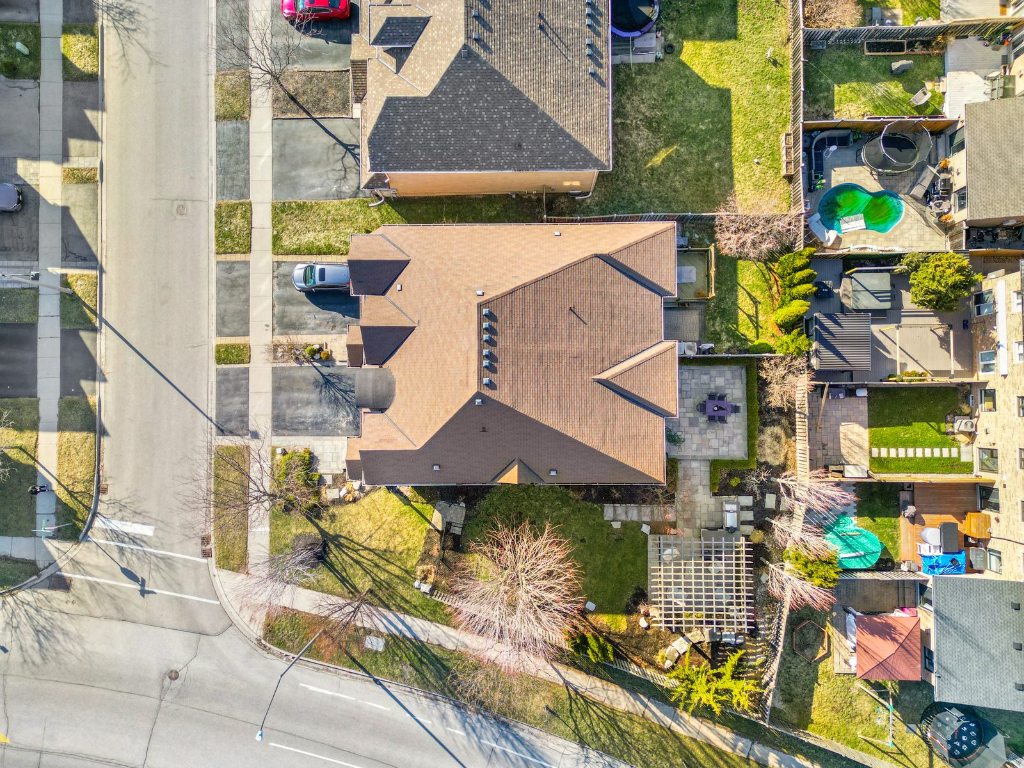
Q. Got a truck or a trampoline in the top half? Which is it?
trampoline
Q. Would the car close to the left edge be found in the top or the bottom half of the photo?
top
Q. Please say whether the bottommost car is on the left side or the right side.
left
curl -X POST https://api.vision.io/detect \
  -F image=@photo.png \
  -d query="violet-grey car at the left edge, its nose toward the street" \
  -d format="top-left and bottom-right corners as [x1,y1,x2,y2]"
[0,184,20,212]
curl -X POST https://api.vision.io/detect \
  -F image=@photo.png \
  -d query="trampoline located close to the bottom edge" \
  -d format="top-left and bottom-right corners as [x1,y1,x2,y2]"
[921,703,1004,768]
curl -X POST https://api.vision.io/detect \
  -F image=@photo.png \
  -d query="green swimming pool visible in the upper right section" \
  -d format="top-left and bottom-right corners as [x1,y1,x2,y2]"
[812,176,909,240]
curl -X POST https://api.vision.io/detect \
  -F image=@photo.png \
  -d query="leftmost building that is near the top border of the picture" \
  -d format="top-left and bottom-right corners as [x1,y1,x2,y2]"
[349,0,611,205]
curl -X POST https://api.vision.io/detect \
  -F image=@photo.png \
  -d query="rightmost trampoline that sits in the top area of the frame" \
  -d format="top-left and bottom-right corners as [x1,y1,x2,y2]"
[856,124,932,176]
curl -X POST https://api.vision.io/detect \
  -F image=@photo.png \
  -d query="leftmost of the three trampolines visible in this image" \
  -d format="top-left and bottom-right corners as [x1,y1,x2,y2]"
[611,0,659,40]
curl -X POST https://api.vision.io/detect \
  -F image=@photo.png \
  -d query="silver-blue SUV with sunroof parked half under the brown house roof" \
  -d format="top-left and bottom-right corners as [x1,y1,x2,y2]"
[291,263,351,294]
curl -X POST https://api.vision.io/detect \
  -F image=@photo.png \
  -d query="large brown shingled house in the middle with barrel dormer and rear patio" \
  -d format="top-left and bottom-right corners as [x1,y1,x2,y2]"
[345,221,679,486]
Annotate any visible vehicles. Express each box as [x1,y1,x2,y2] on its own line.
[291,263,351,294]
[0,184,20,212]
[283,0,349,26]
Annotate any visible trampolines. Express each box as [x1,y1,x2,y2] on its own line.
[611,0,659,40]
[856,124,932,176]
[921,703,1004,768]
